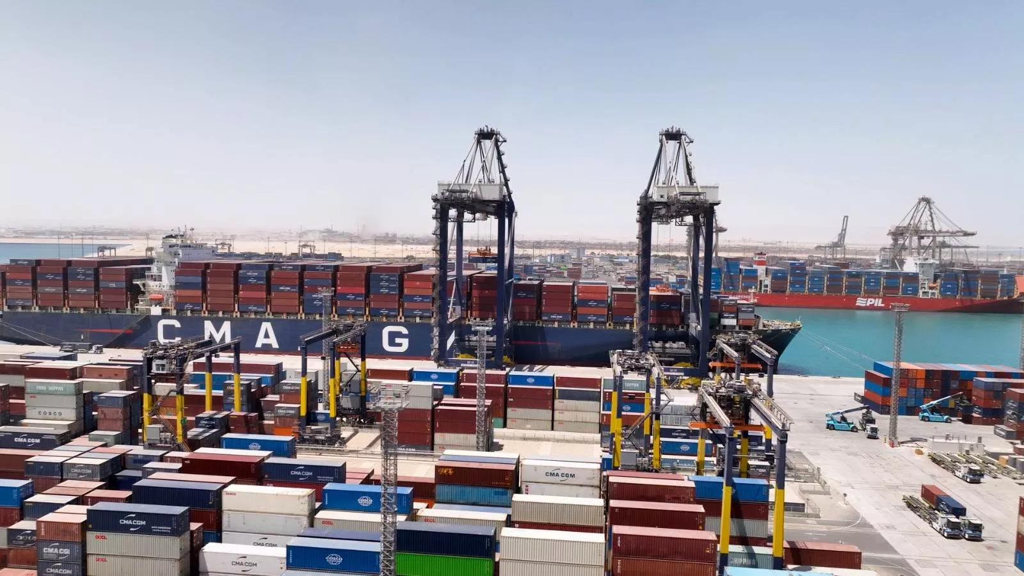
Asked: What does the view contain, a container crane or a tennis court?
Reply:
container crane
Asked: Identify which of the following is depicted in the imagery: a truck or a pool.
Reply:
truck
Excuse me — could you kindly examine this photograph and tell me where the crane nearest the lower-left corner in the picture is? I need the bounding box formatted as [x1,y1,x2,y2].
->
[139,333,245,454]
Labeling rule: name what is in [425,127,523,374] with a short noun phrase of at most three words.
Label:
container crane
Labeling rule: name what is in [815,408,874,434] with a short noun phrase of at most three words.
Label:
work vehicle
